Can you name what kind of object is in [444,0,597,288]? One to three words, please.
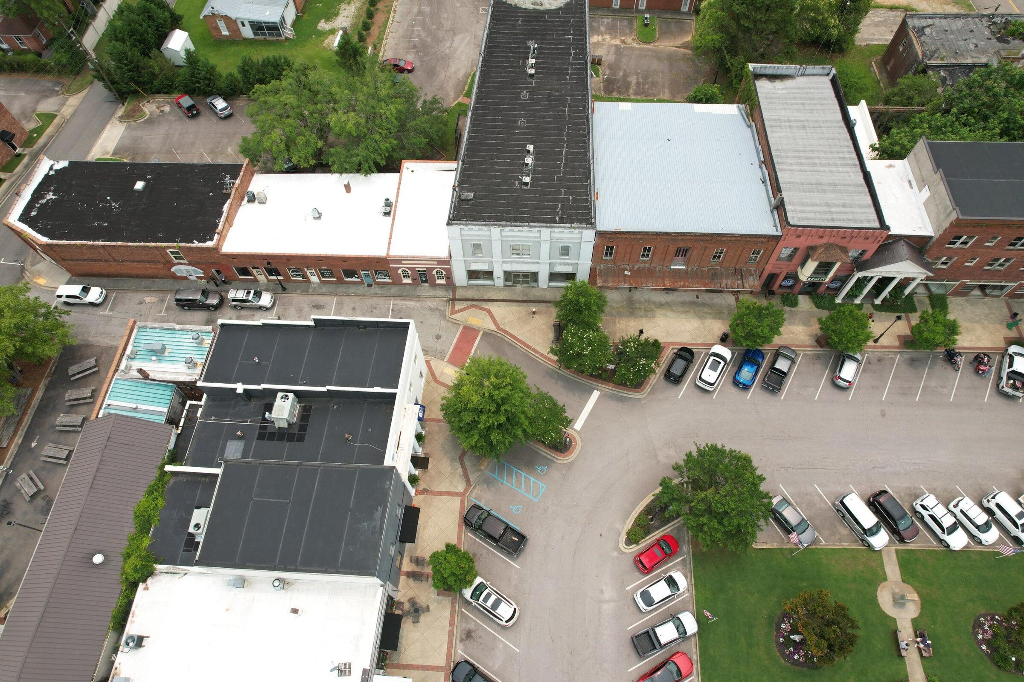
building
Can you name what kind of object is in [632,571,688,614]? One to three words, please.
car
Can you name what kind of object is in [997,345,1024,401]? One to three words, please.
truck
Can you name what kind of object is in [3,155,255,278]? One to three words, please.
building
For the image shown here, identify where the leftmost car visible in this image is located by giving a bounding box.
[54,282,108,305]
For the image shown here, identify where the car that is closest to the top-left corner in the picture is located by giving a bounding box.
[173,92,202,120]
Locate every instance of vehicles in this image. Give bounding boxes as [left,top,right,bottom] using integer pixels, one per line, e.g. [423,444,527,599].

[997,345,1024,401]
[912,493,965,552]
[947,494,997,549]
[759,342,798,397]
[832,349,866,393]
[770,494,815,550]
[172,285,224,309]
[945,352,962,373]
[226,287,276,312]
[663,343,696,389]
[462,579,519,630]
[834,490,888,551]
[696,344,729,394]
[632,534,682,577]
[1007,479,1024,511]
[981,489,1024,548]
[732,346,764,393]
[629,609,699,662]
[54,282,108,305]
[867,486,919,545]
[378,55,418,75]
[205,95,235,122]
[632,571,688,614]
[635,651,694,682]
[453,658,503,682]
[173,92,202,120]
[471,508,535,562]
